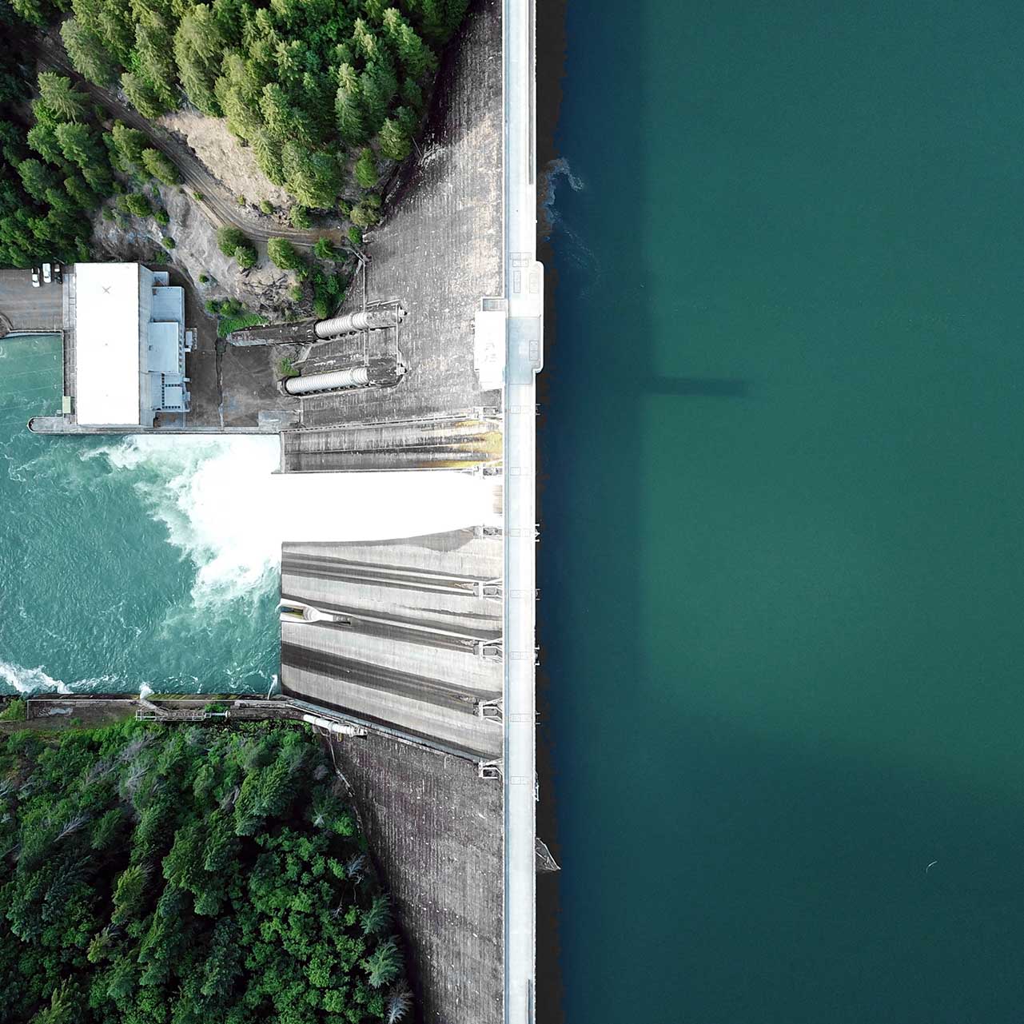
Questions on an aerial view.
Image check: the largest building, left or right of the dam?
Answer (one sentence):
Relative to the dam, the largest building is on the left.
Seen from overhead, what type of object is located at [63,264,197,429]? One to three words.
building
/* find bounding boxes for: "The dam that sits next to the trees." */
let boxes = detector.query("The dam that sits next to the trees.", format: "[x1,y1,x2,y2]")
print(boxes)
[270,0,544,1024]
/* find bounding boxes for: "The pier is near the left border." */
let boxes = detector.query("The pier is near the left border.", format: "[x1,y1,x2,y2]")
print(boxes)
[28,416,62,432]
